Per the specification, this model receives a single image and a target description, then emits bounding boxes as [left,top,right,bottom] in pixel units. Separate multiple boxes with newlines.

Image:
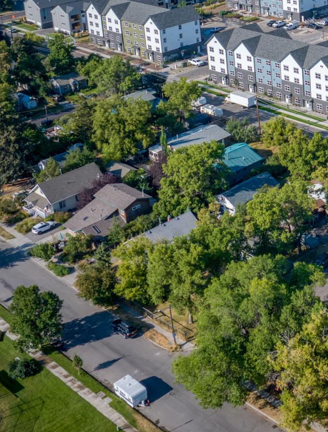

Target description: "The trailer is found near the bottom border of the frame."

[111,370,150,414]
